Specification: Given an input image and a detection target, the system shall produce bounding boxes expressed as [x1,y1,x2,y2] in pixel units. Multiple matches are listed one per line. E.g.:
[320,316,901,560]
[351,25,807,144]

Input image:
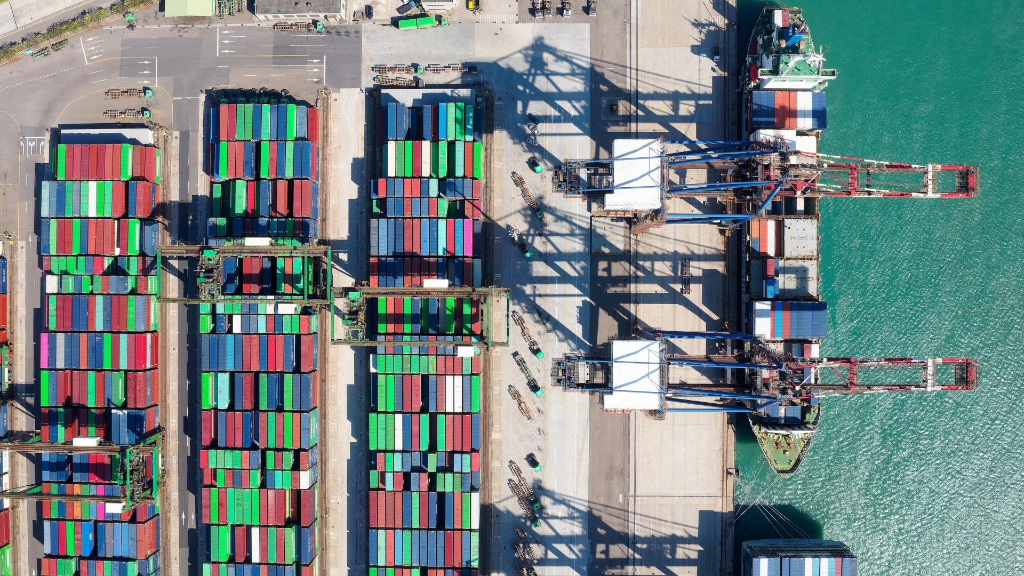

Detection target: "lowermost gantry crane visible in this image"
[0,424,161,512]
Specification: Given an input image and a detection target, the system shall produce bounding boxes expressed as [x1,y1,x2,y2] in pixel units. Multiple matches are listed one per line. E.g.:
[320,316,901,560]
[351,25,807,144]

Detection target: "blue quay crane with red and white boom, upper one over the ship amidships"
[552,135,981,241]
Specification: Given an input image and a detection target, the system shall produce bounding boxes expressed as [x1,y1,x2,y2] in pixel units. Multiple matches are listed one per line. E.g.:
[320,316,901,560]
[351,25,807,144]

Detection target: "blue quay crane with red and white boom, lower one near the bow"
[552,318,981,422]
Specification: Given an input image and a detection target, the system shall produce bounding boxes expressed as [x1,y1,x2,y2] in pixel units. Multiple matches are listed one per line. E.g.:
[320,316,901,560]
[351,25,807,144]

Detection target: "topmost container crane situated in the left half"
[157,236,327,314]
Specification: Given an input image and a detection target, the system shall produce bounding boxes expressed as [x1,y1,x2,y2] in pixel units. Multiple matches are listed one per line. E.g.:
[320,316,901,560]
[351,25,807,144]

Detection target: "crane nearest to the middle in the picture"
[332,277,509,356]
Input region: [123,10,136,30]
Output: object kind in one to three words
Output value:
vehicle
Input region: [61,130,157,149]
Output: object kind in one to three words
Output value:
shed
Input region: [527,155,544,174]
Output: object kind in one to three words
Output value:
work vehicle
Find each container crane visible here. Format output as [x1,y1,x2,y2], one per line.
[552,318,981,422]
[157,236,327,314]
[332,277,509,356]
[552,135,981,241]
[0,424,161,512]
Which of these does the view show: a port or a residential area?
port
